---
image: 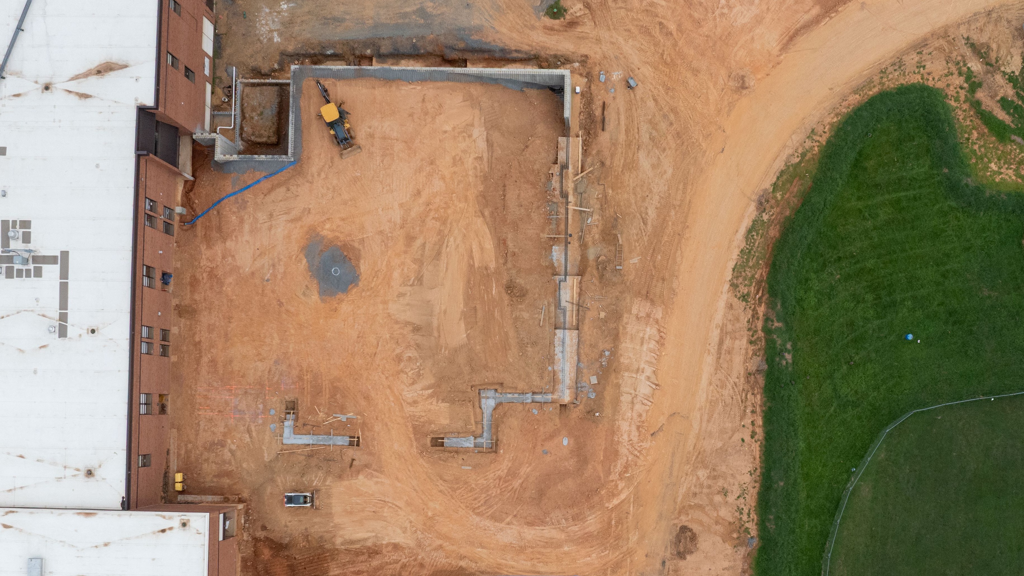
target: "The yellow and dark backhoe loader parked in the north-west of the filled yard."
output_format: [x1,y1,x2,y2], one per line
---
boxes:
[313,79,365,160]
